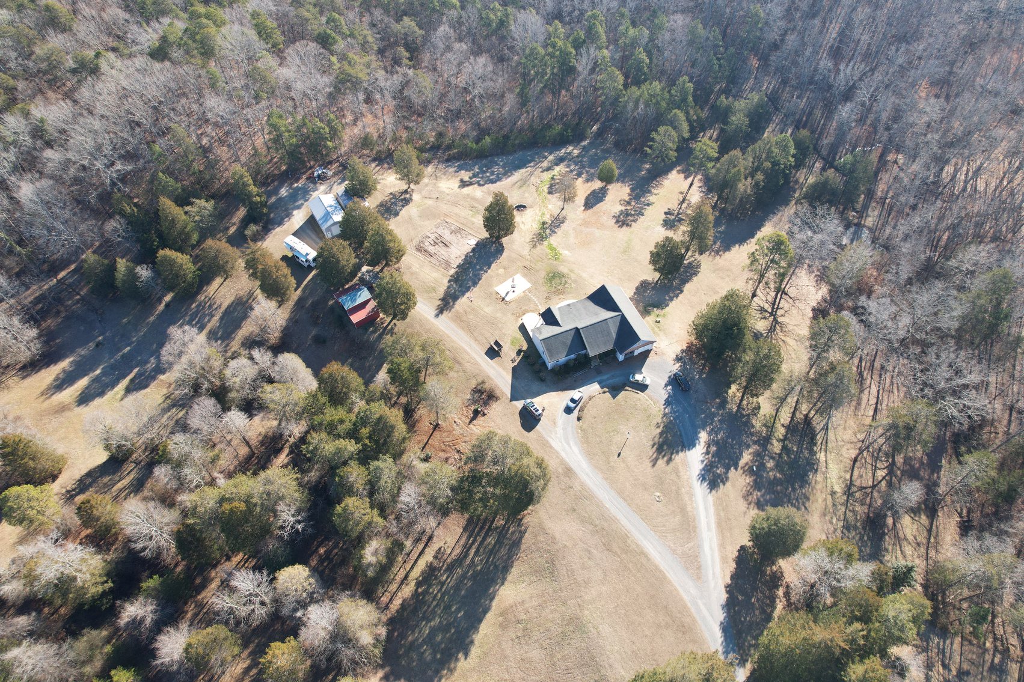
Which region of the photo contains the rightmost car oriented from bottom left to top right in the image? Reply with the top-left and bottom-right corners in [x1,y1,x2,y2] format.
[564,389,585,412]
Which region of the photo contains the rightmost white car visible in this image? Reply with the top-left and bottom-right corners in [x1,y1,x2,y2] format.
[627,374,653,388]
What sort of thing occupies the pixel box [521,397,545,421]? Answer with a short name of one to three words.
car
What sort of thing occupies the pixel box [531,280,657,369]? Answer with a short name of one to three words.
house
